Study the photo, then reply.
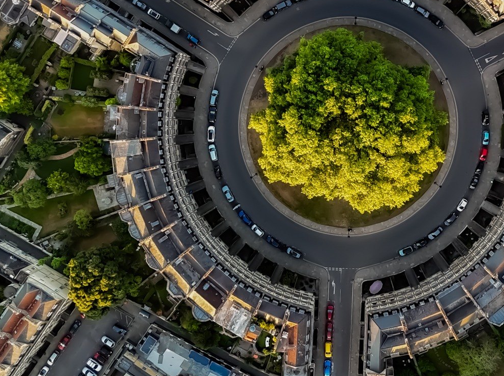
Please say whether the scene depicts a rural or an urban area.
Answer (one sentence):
The area is urban.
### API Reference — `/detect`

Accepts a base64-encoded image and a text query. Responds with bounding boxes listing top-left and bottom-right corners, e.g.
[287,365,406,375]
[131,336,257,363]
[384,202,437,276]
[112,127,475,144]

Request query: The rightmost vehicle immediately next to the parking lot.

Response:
[134,307,153,320]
